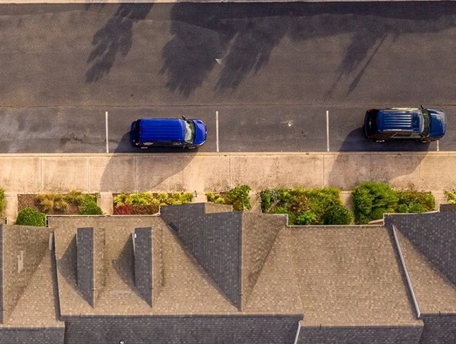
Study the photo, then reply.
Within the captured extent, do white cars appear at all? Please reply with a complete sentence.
No, the scene contains no white car.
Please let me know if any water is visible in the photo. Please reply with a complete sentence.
No, no water is visible.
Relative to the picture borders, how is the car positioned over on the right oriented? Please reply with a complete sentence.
In this picture, the car positioned over on the right lies from left to right.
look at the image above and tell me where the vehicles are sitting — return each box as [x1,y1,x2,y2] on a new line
[130,114,207,151]
[362,105,446,144]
